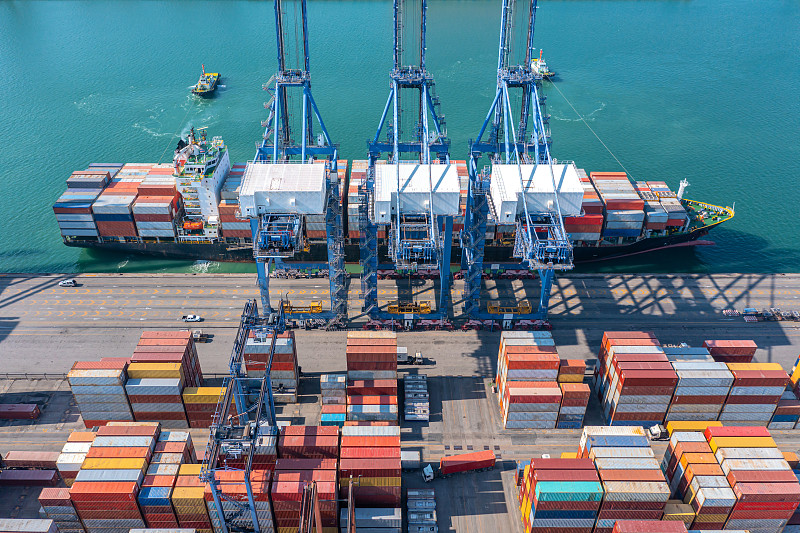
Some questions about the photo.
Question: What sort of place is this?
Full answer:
The picture captures a port.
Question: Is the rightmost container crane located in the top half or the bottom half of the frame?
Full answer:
It is in the top half that the rightmost container crane appears.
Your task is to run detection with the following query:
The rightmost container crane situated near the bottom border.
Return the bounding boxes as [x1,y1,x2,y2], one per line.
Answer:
[293,489,351,533]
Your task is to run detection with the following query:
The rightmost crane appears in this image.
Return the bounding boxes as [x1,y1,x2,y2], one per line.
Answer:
[455,0,587,328]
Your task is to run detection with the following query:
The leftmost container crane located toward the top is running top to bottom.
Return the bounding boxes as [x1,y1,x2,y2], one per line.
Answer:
[234,0,352,328]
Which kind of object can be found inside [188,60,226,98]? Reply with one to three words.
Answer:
boat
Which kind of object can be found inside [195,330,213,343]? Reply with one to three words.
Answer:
vehicle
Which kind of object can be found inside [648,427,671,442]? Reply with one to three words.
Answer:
vehicle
